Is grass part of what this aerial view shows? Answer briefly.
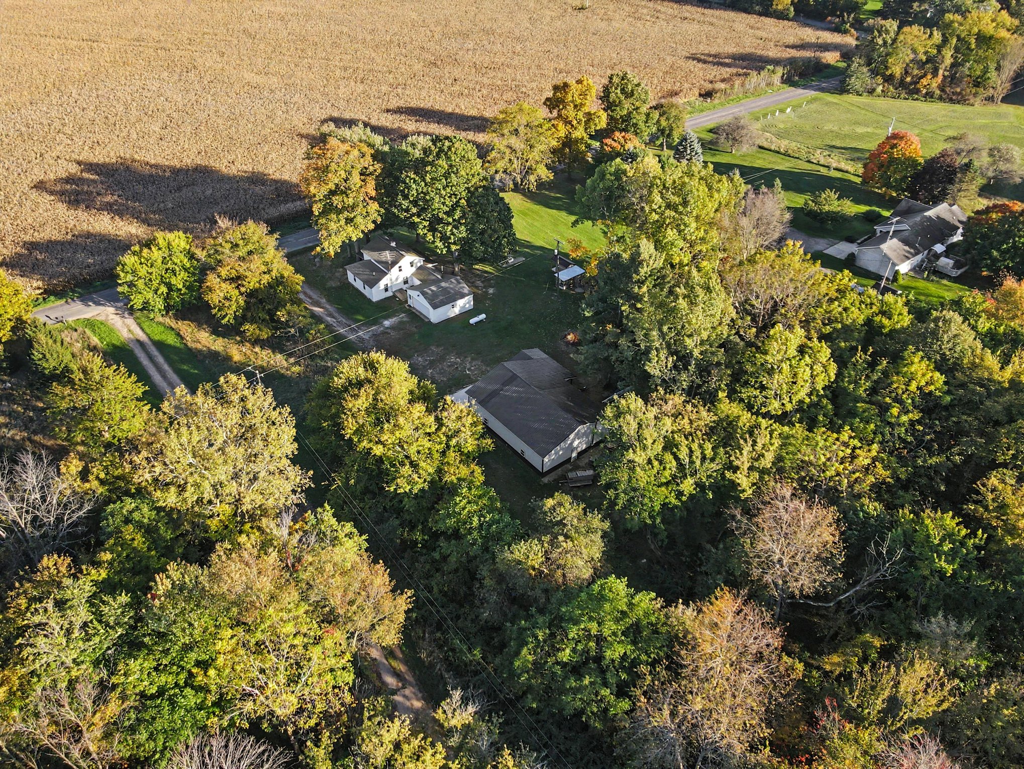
Yes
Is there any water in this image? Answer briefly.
No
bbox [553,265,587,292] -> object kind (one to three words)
shed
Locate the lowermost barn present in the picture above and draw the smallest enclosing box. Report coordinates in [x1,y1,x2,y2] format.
[462,348,616,473]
